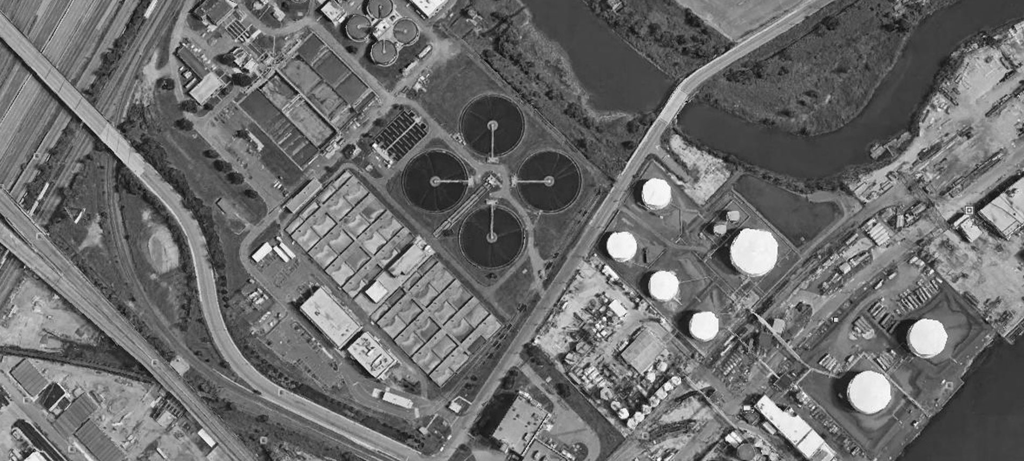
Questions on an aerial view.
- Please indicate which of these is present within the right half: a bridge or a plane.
bridge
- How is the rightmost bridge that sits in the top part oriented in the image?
diagonally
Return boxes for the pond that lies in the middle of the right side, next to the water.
[733,174,841,245]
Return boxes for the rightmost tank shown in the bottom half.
[905,318,948,360]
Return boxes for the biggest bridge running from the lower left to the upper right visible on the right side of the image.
[657,74,712,120]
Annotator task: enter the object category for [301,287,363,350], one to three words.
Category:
building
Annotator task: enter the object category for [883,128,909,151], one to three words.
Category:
ship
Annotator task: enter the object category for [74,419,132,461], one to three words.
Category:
shed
